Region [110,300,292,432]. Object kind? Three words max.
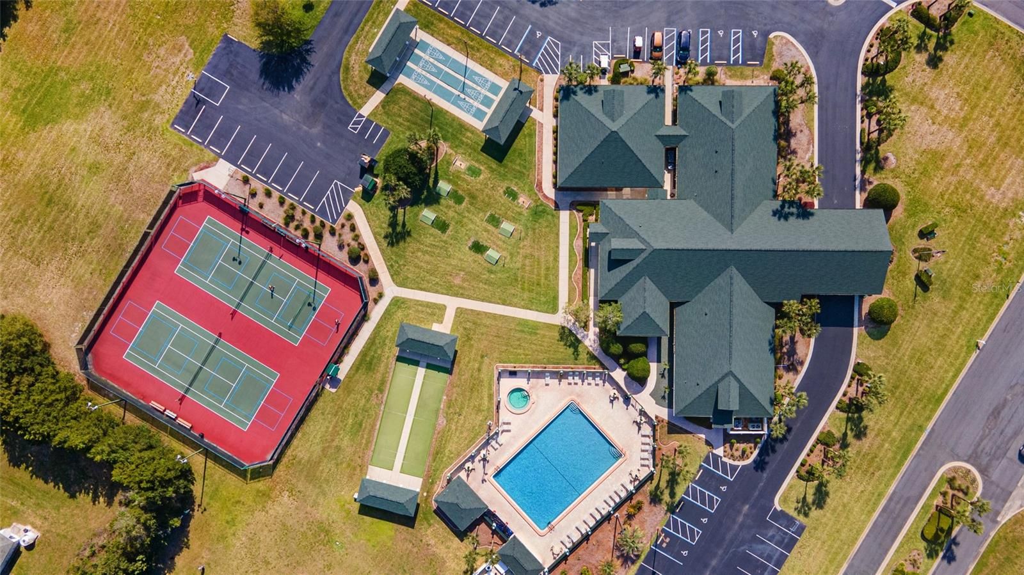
tennis court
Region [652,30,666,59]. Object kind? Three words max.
car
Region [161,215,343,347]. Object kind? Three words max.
tennis court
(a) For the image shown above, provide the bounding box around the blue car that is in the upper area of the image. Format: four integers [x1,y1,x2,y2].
[680,31,694,62]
